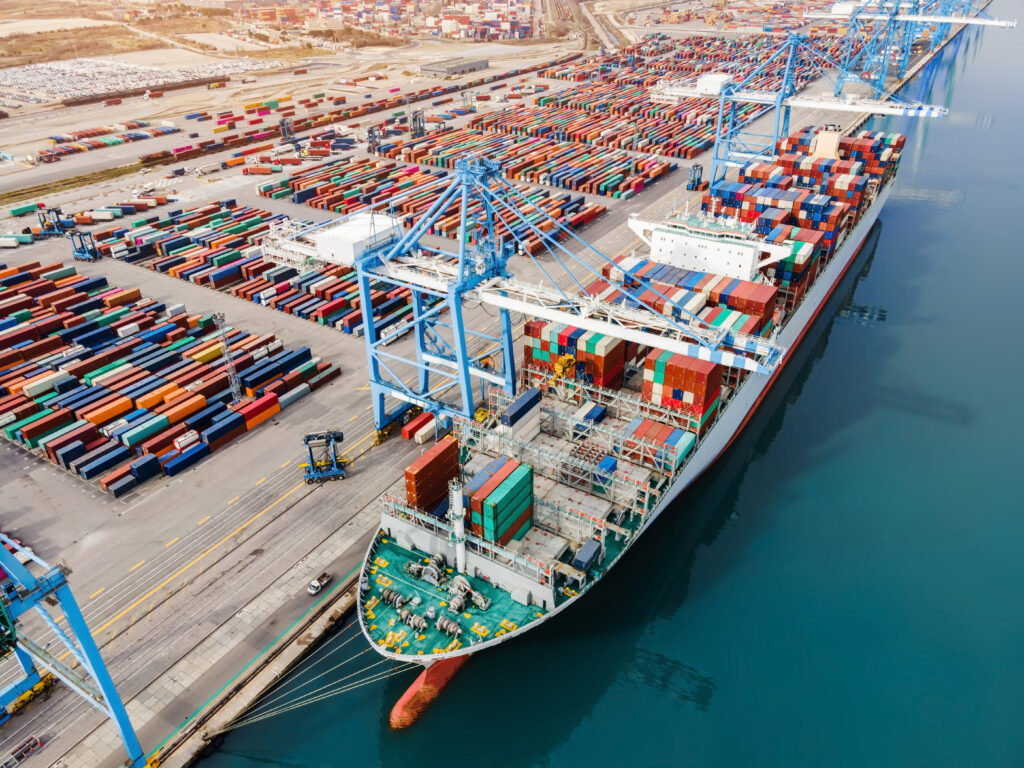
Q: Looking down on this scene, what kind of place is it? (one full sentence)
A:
It's a port.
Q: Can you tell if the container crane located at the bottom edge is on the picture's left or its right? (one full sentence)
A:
The container crane located at the bottom edge sits on the left side.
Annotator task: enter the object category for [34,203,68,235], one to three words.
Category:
work vehicle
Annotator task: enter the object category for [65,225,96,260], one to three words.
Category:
work vehicle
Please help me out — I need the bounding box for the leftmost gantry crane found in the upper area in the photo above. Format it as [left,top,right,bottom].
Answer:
[249,143,782,442]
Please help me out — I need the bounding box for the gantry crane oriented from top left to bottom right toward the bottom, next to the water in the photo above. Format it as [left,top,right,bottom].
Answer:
[0,529,171,768]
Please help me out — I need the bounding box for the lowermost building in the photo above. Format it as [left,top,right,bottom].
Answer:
[388,55,487,81]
